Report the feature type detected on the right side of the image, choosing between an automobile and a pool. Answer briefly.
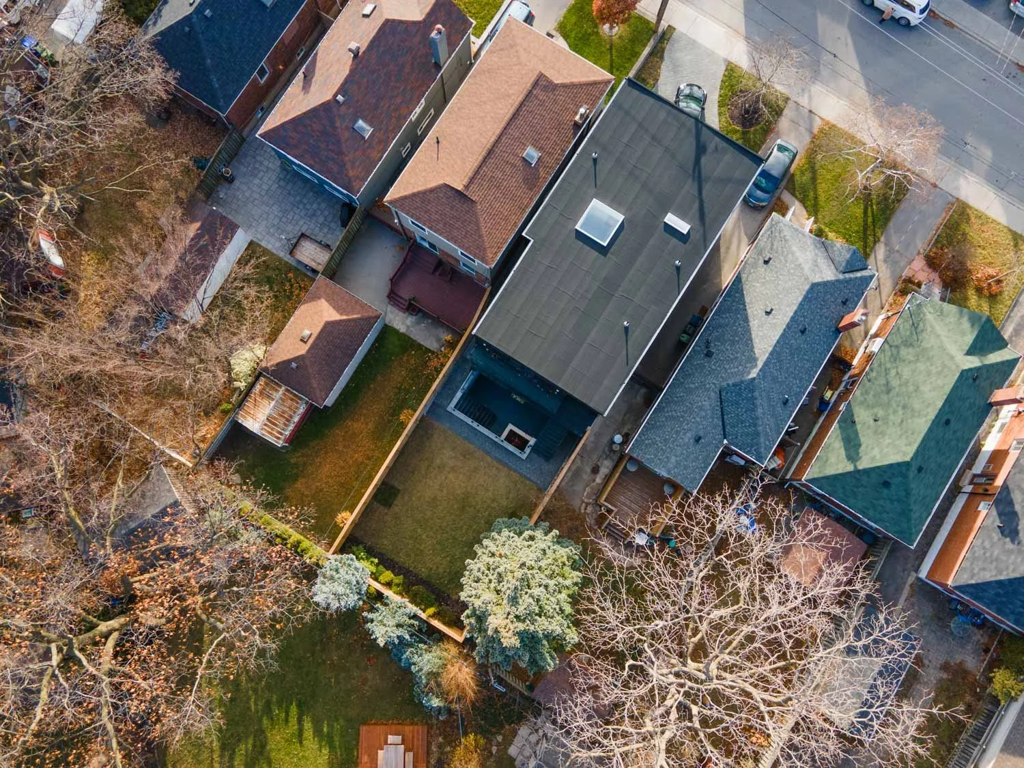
automobile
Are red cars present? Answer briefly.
No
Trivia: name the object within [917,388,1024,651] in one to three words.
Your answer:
house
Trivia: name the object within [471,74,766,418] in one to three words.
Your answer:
house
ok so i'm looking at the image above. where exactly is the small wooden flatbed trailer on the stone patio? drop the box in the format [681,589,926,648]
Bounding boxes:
[281,234,333,273]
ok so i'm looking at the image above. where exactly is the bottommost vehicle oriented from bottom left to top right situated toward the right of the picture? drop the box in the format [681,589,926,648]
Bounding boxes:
[740,136,803,215]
